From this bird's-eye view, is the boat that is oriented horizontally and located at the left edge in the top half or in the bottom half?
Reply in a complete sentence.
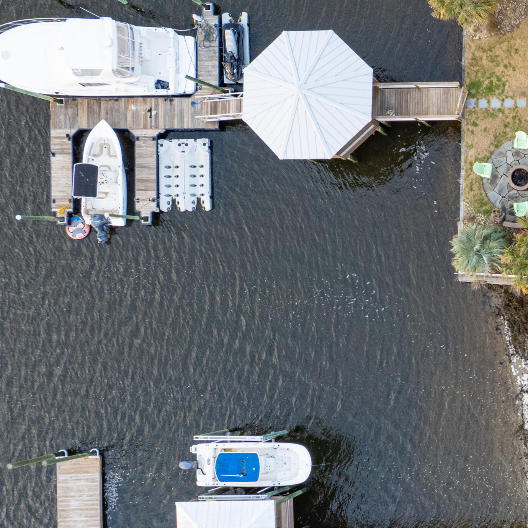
You can find the boat that is oriented horizontally and located at the left edge in the top half.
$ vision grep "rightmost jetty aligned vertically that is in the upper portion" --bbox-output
[222,11,251,85]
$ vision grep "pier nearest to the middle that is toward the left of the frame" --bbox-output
[158,139,214,212]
